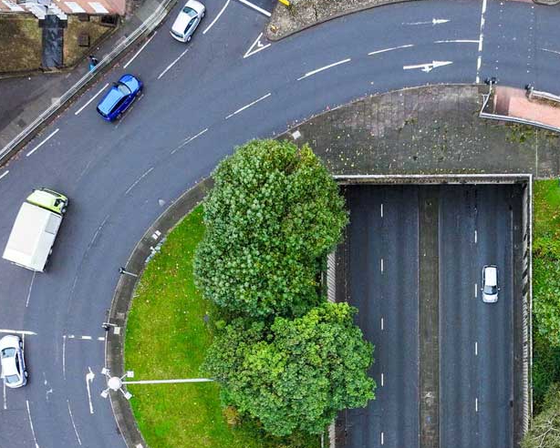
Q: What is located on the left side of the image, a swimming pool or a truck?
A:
truck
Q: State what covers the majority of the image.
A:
paved ground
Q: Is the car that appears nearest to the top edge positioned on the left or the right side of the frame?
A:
left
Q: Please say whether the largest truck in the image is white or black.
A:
white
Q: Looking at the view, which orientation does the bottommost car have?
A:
up and down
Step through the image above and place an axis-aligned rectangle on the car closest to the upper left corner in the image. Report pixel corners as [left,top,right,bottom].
[97,75,142,124]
